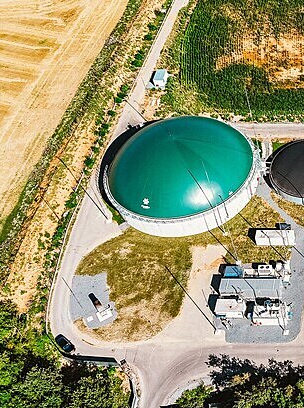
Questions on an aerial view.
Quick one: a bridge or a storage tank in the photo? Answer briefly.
storage tank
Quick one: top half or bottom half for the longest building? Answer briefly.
bottom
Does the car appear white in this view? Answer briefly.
No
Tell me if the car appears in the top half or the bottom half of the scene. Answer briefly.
bottom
